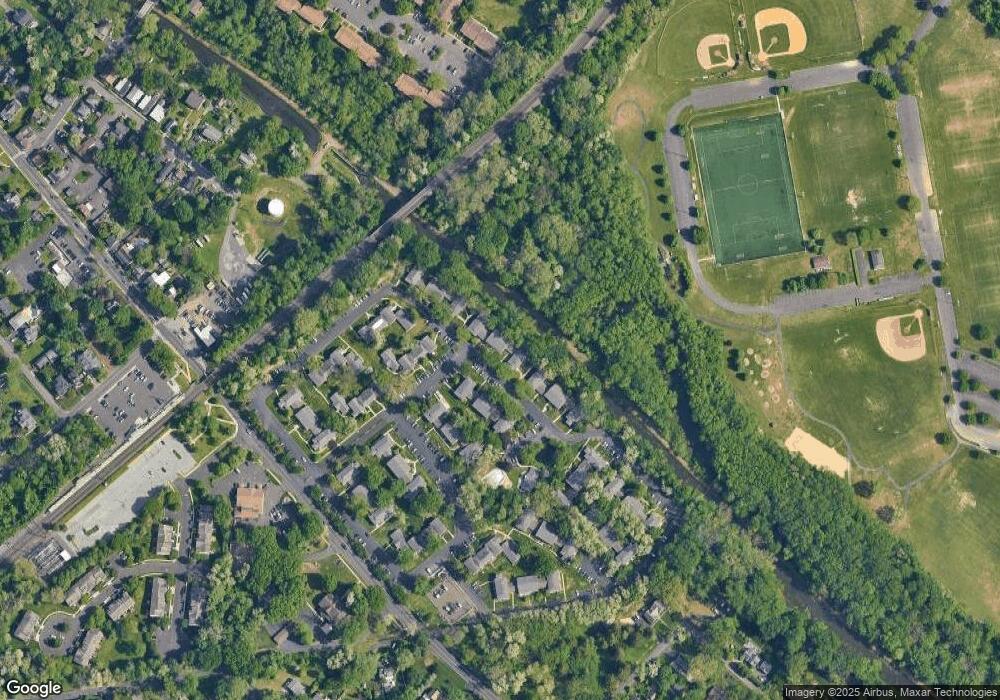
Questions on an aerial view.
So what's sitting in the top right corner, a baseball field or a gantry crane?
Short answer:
baseball field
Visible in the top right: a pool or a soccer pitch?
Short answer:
soccer pitch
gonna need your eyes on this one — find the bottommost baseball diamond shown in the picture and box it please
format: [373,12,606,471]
[876,305,930,361]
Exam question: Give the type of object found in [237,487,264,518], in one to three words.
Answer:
building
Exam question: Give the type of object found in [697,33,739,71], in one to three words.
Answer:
baseball field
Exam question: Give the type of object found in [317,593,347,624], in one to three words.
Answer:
house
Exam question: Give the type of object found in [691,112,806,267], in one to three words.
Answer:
soccer field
